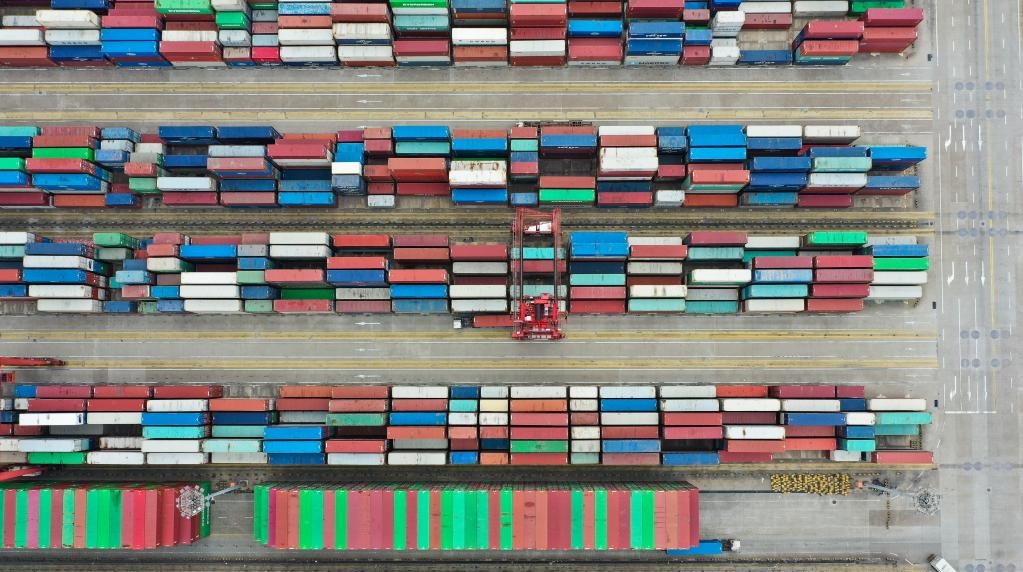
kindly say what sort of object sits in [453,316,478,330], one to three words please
vehicle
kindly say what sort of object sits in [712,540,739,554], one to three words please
vehicle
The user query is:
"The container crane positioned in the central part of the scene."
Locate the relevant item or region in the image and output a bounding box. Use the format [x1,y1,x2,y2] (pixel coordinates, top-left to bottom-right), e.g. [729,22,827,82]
[508,208,569,342]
